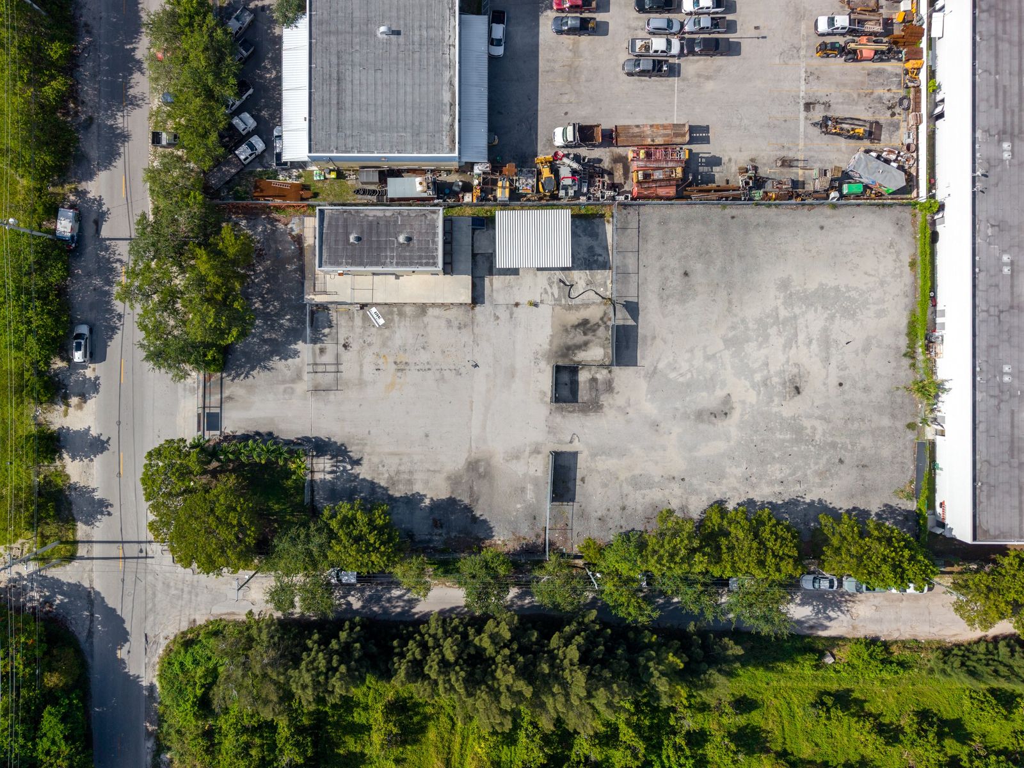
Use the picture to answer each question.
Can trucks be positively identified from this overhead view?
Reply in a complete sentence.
Yes, there's a truck down there.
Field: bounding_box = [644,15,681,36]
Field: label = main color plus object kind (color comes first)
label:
gray car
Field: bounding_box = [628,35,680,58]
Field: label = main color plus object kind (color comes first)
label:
white truck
